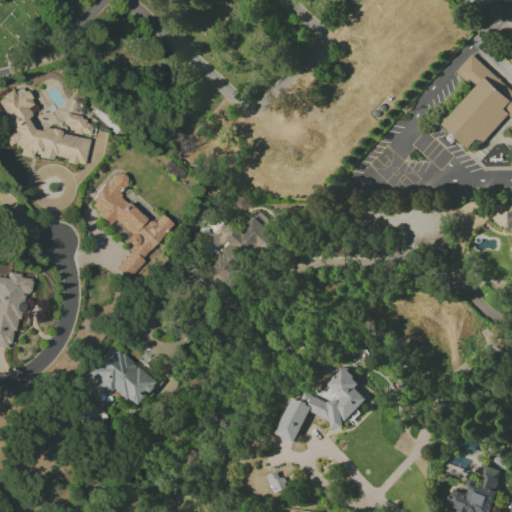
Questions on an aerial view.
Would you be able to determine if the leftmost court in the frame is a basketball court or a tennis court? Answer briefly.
basketball court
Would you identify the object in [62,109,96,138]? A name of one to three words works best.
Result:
building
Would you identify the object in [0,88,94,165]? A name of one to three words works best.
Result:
house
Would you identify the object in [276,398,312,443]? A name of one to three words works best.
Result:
barn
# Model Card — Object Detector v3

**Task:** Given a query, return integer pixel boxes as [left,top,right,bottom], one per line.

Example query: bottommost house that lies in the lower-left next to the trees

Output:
[92,352,157,407]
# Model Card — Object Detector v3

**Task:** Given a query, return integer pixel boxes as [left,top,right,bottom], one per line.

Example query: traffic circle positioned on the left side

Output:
[32,164,78,210]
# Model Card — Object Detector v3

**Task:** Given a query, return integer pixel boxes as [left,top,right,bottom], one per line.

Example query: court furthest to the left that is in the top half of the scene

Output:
[371,145,422,194]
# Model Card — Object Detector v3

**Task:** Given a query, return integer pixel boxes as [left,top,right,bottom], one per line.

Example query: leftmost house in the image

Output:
[0,272,34,346]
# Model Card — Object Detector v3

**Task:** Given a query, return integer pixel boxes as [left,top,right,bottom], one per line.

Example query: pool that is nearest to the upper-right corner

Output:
[475,234,502,252]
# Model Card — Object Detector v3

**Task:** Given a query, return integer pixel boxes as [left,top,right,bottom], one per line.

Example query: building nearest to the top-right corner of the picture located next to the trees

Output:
[442,52,512,152]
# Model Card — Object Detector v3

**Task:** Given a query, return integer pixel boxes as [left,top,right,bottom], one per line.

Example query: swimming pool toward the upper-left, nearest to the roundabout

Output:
[47,87,66,108]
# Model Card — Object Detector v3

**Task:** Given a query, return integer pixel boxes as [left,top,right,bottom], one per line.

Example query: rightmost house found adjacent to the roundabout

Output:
[93,171,174,274]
